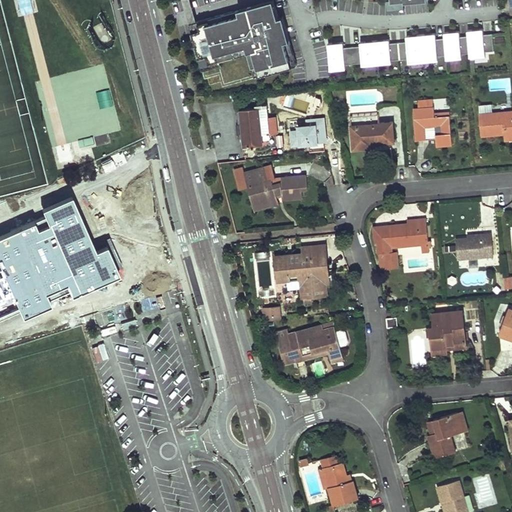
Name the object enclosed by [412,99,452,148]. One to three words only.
house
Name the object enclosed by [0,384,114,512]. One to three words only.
sports field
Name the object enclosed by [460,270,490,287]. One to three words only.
swimming pool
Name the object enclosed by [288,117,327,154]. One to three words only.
house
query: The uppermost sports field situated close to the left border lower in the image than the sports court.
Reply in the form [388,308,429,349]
[0,327,94,402]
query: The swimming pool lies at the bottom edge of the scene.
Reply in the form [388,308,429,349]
[305,471,321,497]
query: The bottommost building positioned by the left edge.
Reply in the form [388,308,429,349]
[0,198,122,320]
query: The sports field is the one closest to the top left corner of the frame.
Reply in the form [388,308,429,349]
[0,0,48,198]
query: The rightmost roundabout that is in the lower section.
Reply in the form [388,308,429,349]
[214,387,288,463]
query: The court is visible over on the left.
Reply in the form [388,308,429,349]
[35,64,121,148]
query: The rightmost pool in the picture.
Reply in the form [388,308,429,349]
[489,78,506,90]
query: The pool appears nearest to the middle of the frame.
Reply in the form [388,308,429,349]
[257,260,272,288]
